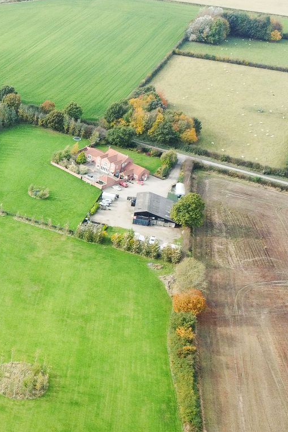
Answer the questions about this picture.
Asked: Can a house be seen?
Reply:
Yes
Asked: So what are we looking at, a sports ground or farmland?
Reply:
farmland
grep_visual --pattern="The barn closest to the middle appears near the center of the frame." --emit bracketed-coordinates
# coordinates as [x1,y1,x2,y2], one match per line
[130,188,181,228]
